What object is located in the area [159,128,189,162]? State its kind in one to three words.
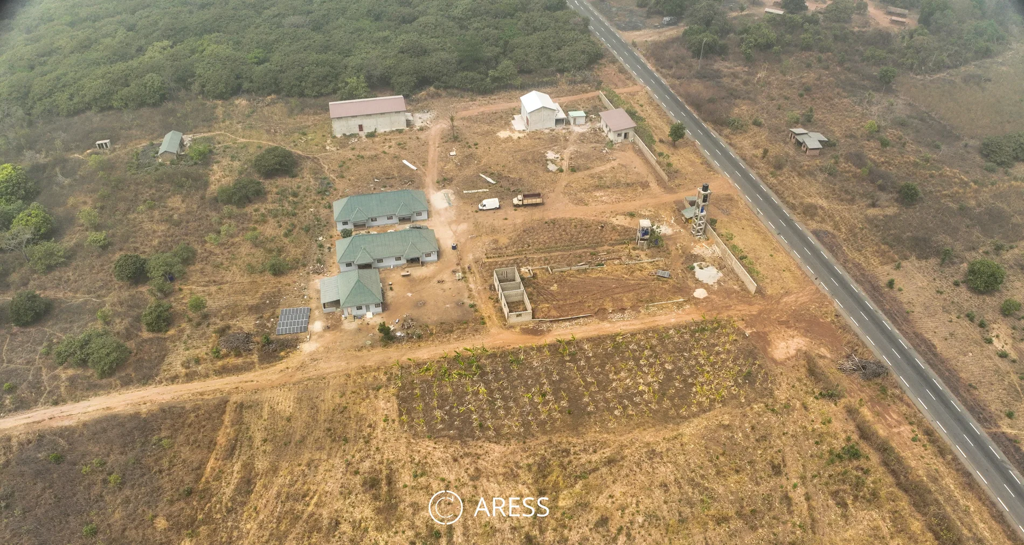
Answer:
barn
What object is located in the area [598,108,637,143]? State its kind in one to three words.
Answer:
building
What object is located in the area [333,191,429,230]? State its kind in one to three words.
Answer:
building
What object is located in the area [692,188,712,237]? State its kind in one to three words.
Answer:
water tower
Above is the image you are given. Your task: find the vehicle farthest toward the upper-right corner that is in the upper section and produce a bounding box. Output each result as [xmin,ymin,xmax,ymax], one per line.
[512,192,544,207]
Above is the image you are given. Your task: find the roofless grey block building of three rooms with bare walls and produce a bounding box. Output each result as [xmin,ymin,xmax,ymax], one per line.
[495,265,531,323]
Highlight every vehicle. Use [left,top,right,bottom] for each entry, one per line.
[512,192,544,207]
[479,197,499,210]
[409,221,426,230]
